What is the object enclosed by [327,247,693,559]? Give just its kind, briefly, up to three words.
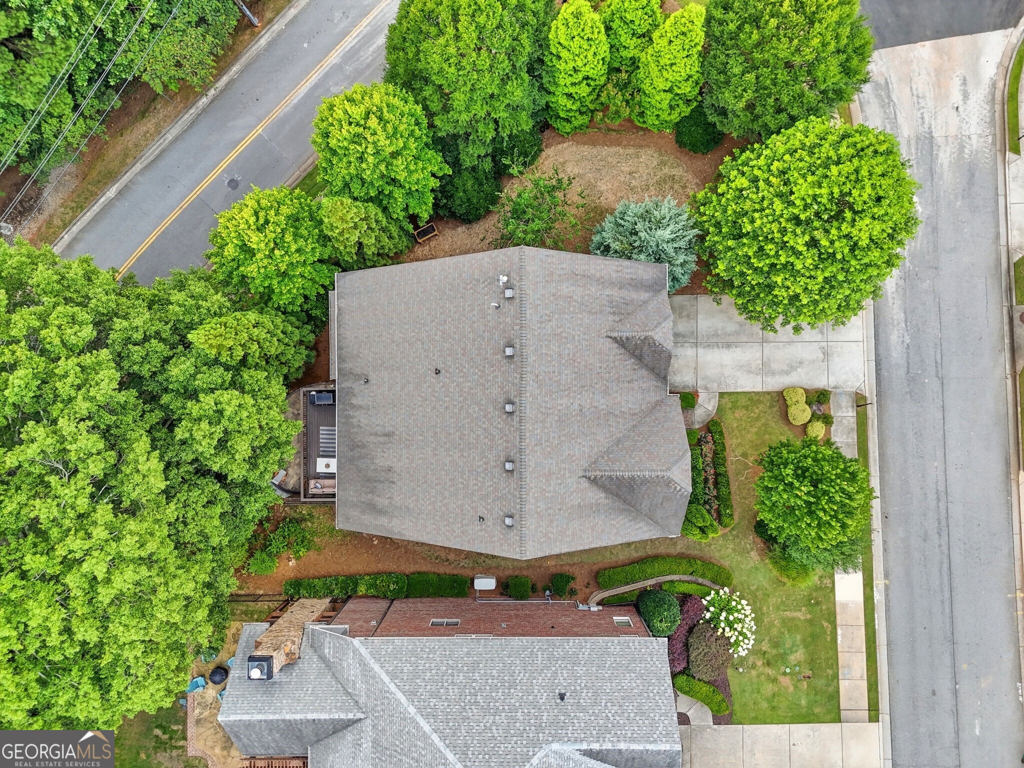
house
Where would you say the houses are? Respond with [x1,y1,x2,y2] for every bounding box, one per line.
[217,590,683,768]
[327,247,693,559]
